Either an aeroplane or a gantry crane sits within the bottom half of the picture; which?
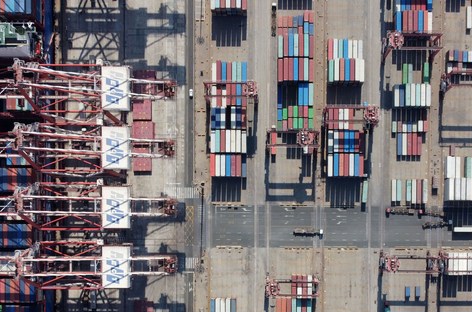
gantry crane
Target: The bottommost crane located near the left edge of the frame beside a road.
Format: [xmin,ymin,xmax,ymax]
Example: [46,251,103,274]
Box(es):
[0,236,181,291]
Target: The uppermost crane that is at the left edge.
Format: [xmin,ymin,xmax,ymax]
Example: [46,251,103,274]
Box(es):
[0,57,181,130]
